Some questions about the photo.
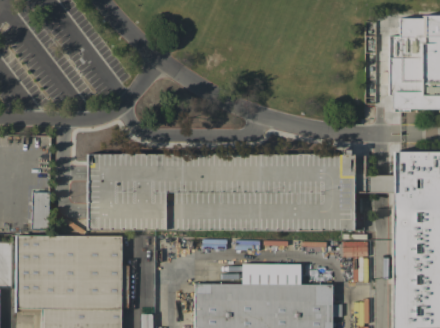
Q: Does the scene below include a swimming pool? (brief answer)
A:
No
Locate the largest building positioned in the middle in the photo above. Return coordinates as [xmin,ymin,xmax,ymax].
[86,148,356,232]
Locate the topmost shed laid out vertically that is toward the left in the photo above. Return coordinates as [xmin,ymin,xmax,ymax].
[32,193,50,232]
